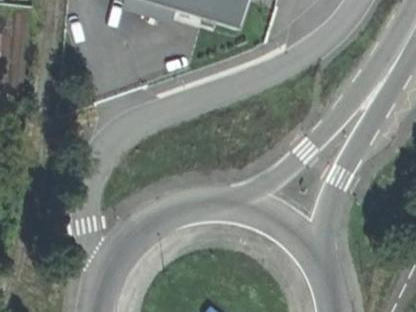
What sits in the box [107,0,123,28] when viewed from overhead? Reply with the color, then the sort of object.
white vehicle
